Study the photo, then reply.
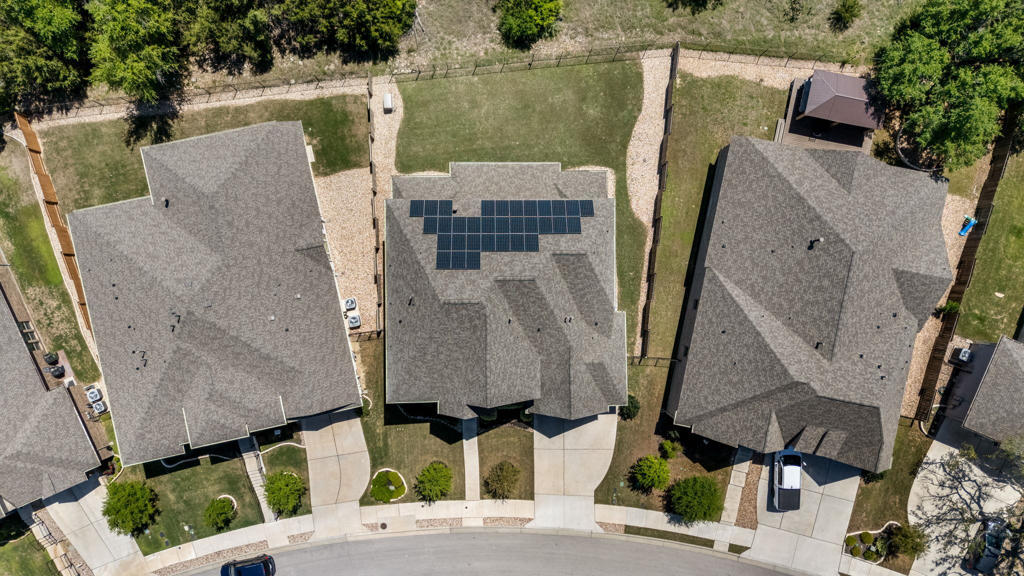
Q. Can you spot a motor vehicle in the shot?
Yes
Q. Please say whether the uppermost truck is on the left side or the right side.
right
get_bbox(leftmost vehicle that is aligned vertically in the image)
[773,442,806,510]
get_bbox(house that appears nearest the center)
[384,161,628,419]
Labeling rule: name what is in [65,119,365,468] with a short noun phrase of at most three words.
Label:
house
